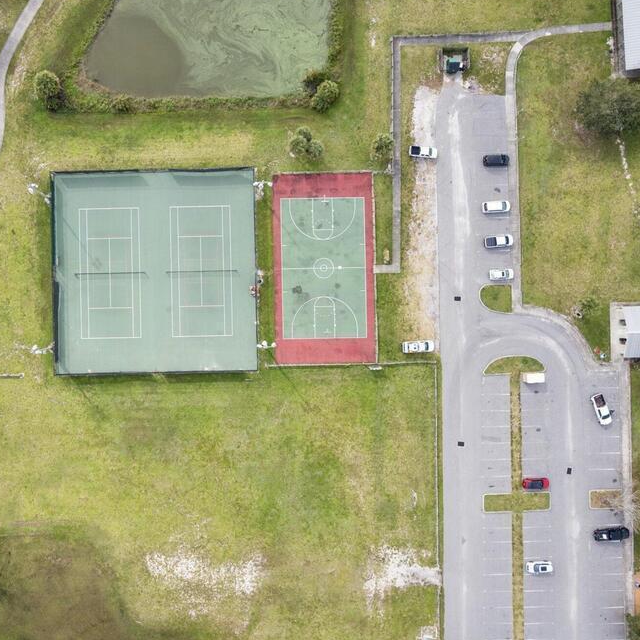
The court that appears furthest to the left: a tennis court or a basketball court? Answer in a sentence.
The court that appears furthest to the left appears to be a tennis court.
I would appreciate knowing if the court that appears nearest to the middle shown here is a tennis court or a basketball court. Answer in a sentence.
The court that appears nearest to the middle can be classified as a basketball court.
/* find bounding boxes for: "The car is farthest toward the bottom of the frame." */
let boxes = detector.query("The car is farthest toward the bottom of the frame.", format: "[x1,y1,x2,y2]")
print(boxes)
[526,562,554,575]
